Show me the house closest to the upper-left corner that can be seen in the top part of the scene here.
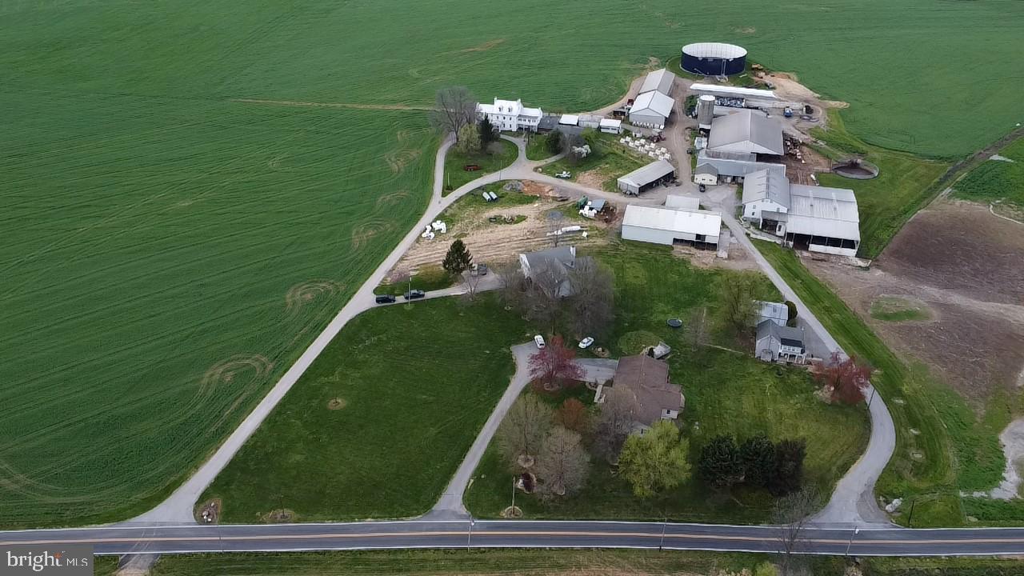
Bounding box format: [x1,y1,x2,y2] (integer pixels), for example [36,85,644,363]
[478,97,543,134]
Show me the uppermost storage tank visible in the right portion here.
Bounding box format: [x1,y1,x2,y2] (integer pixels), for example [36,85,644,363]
[679,42,750,77]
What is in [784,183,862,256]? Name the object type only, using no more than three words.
building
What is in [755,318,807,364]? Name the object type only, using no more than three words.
house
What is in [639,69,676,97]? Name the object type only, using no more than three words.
barn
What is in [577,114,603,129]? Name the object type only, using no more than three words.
shed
